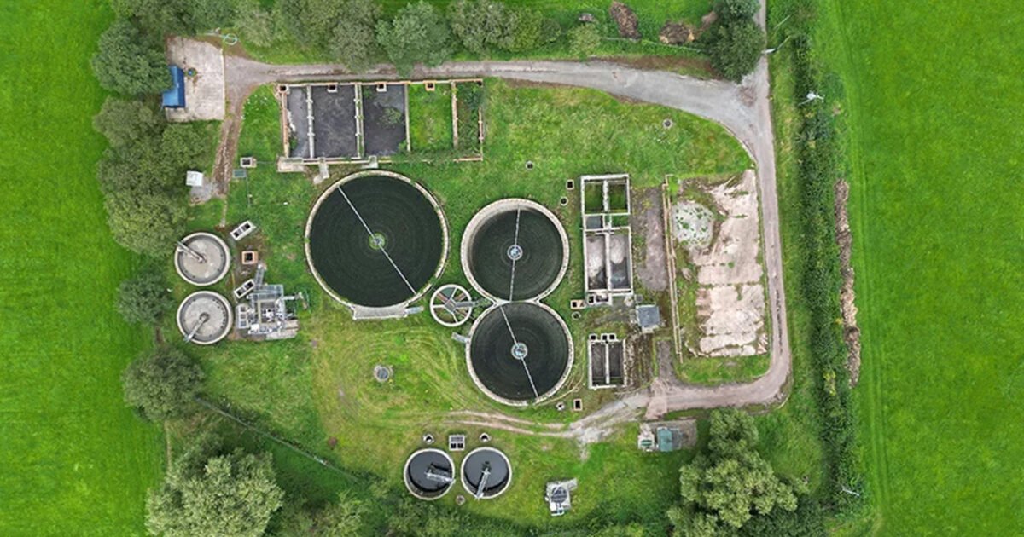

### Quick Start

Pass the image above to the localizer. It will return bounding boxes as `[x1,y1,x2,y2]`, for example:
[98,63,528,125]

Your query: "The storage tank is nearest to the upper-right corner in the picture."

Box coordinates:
[580,173,635,308]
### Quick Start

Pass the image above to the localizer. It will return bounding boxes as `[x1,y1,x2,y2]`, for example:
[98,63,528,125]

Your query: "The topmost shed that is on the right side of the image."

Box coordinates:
[634,305,660,332]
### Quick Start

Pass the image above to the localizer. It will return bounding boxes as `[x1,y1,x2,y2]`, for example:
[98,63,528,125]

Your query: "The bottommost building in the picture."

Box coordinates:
[637,420,697,452]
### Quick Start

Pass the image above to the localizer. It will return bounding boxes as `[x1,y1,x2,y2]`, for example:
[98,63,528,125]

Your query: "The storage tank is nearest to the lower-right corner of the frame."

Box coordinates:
[588,339,627,389]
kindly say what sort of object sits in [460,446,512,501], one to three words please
storage tank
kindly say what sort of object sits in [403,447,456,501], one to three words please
storage tank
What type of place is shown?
industrial area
